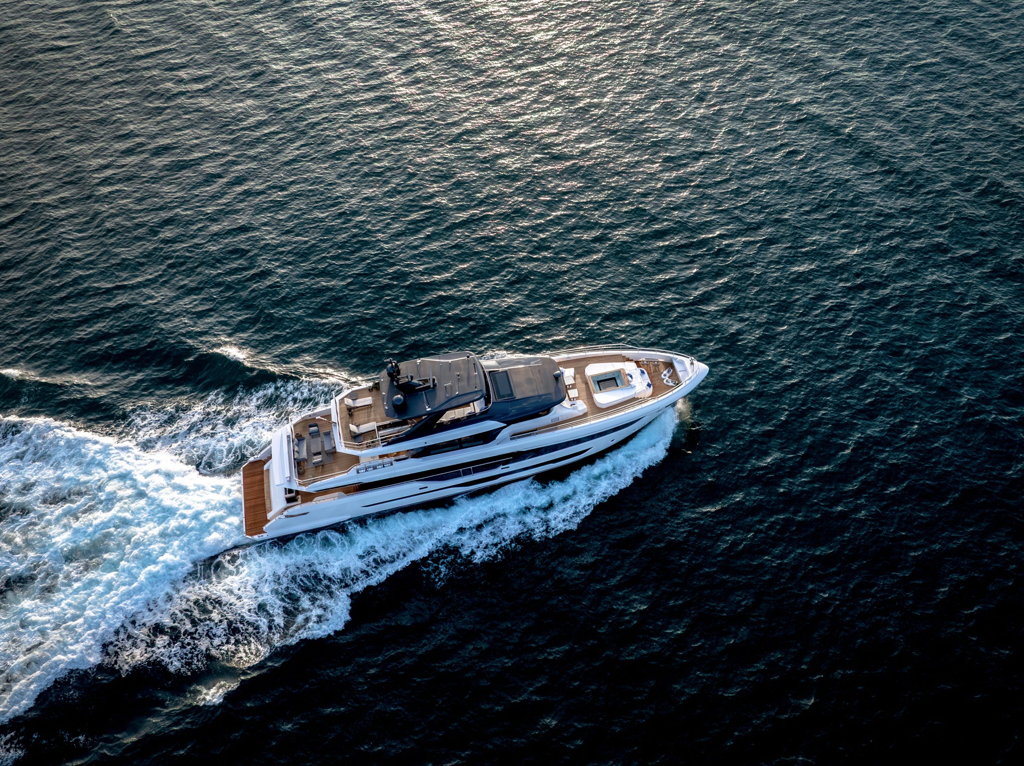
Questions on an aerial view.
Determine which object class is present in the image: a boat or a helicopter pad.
boat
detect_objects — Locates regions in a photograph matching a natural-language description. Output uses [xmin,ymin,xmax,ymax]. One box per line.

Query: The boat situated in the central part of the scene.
[241,333,708,541]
